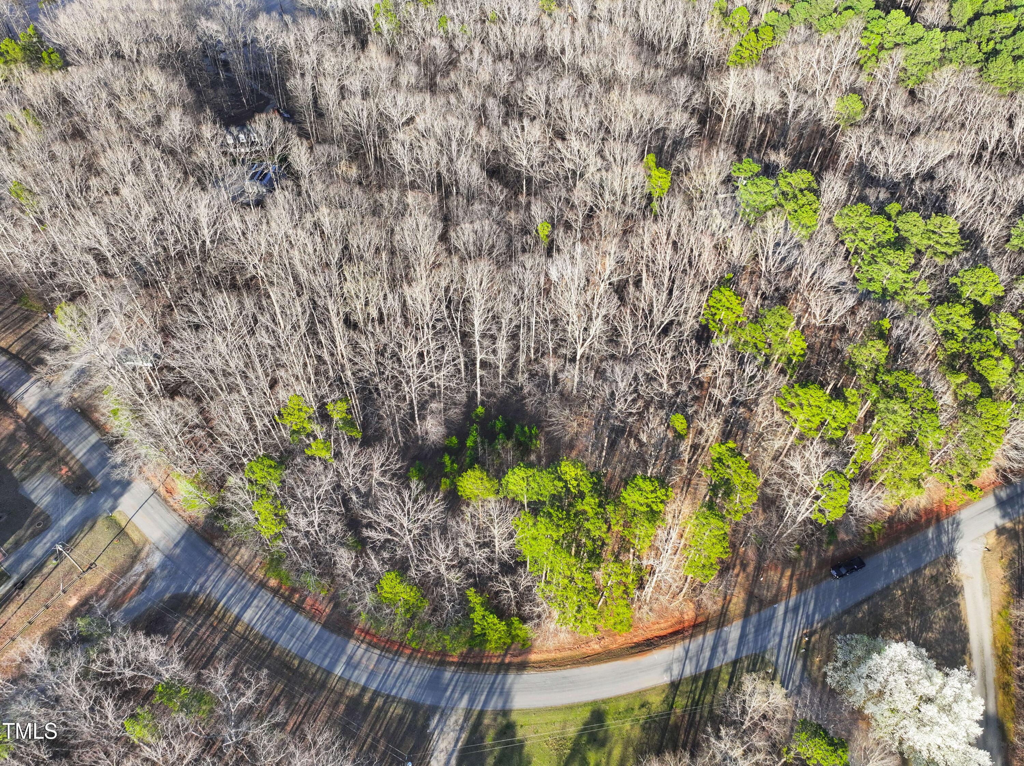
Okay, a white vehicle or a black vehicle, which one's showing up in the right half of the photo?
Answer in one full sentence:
Looking in the right half of the photo, you will find a black vehicle.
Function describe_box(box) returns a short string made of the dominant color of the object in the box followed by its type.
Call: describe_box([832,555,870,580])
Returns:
black truck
